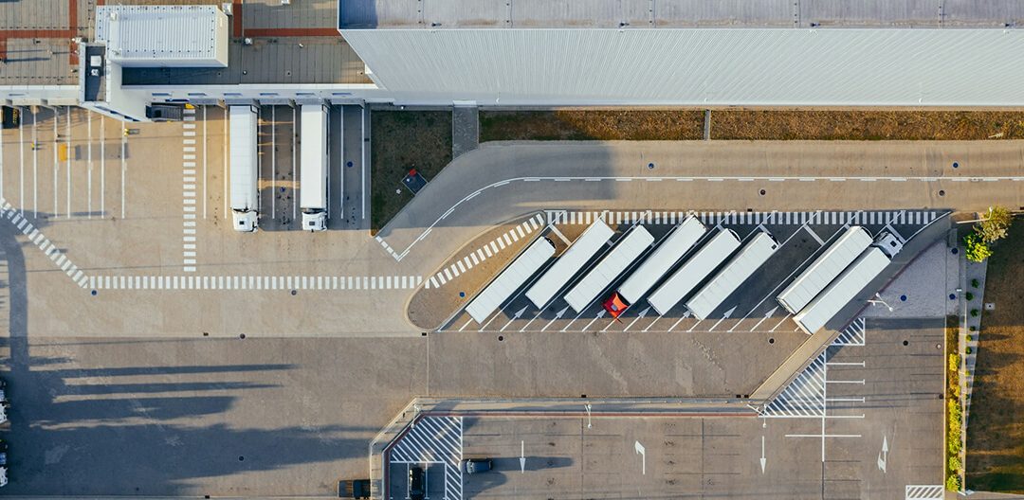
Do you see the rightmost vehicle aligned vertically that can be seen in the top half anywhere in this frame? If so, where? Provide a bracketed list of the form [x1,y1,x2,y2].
[301,105,328,234]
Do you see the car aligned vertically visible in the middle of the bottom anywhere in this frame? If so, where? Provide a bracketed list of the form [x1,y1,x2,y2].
[410,465,427,499]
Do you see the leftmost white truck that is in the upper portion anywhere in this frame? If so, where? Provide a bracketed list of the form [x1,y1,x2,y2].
[230,105,259,233]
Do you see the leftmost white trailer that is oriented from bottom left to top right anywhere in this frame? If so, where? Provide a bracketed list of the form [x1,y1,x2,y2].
[466,236,556,324]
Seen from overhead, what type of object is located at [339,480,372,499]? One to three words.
vehicle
